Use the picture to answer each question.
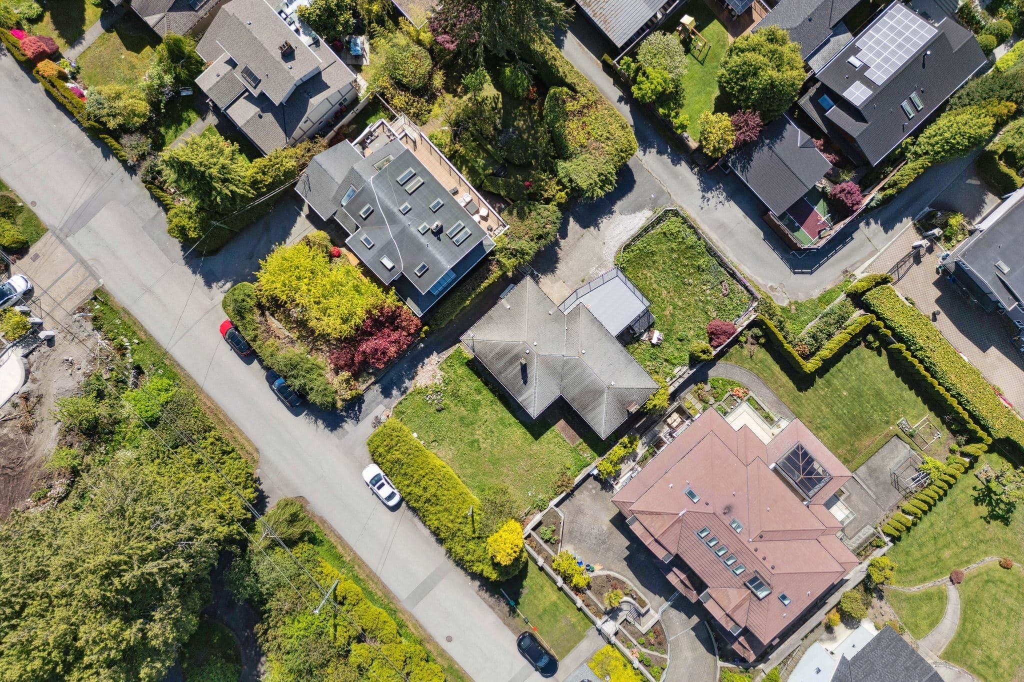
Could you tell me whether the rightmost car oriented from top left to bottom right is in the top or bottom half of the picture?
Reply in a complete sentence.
The bottom half of the photo is where the rightmost car oriented from top left to bottom right is.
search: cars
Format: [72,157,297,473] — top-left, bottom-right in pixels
[263,367,303,414]
[364,462,398,512]
[518,629,556,681]
[221,317,254,360]
[0,277,34,313]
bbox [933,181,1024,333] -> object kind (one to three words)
house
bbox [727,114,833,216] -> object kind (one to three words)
building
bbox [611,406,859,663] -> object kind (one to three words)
house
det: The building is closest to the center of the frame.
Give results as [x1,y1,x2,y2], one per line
[460,267,659,440]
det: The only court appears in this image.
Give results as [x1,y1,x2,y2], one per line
[756,185,836,245]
